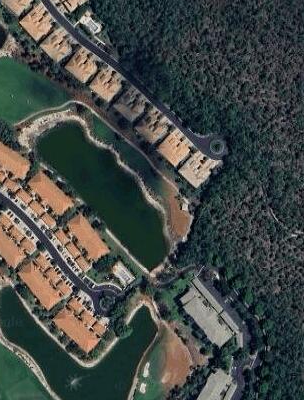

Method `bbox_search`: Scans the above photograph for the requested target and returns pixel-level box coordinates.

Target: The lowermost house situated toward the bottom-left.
[54,300,108,352]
